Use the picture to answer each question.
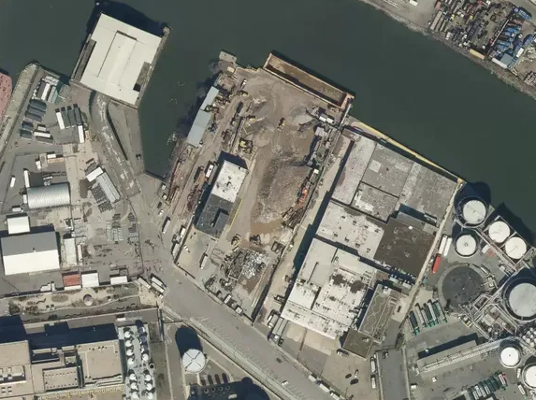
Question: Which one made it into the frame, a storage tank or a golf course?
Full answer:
Of the two, only a storage tank appears.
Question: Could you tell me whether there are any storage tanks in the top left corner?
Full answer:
No, there's no storage tank to be seen in the top left corner.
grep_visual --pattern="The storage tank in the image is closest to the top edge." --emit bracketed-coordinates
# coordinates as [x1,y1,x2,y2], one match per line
[456,194,491,228]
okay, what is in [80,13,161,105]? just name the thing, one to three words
shed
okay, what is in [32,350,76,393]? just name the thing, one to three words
building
